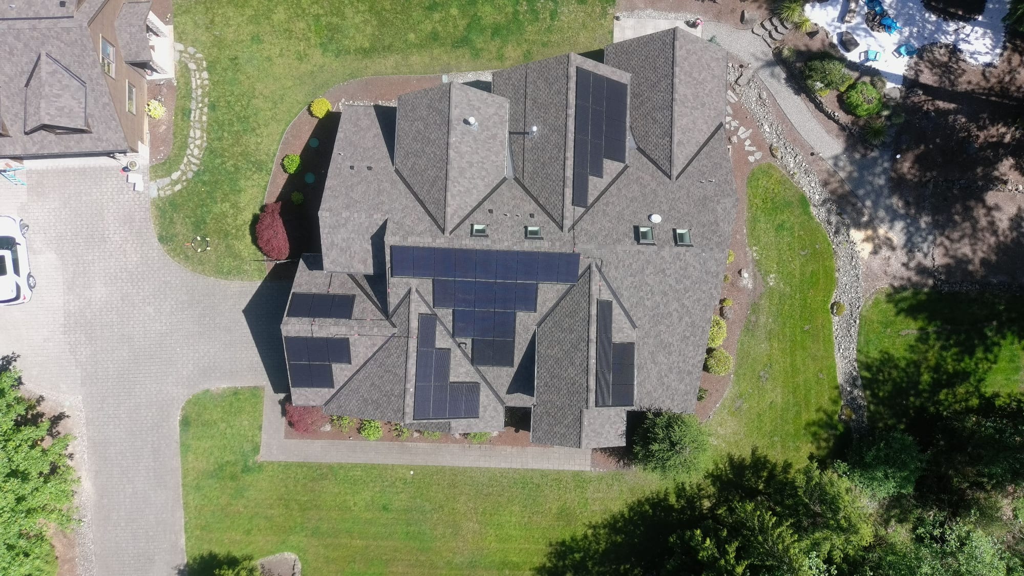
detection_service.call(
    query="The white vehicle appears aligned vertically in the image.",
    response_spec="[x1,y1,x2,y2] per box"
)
[0,216,40,305]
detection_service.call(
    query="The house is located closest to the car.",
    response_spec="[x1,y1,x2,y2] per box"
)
[0,0,175,160]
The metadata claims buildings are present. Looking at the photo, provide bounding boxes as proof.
[280,27,736,449]
[0,0,175,160]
